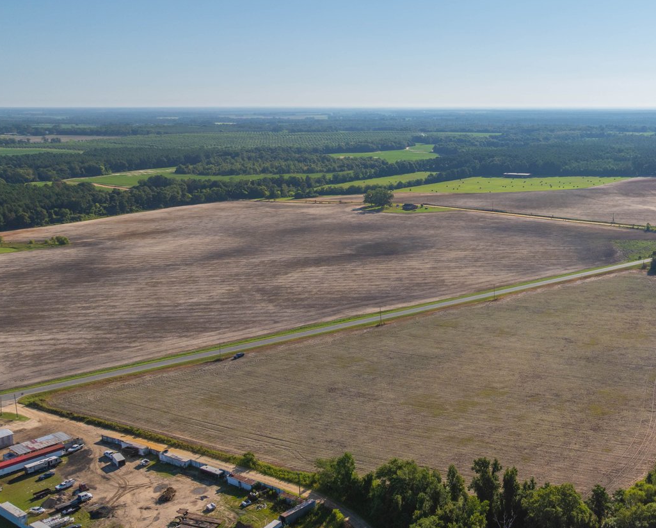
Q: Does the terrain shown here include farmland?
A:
Yes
